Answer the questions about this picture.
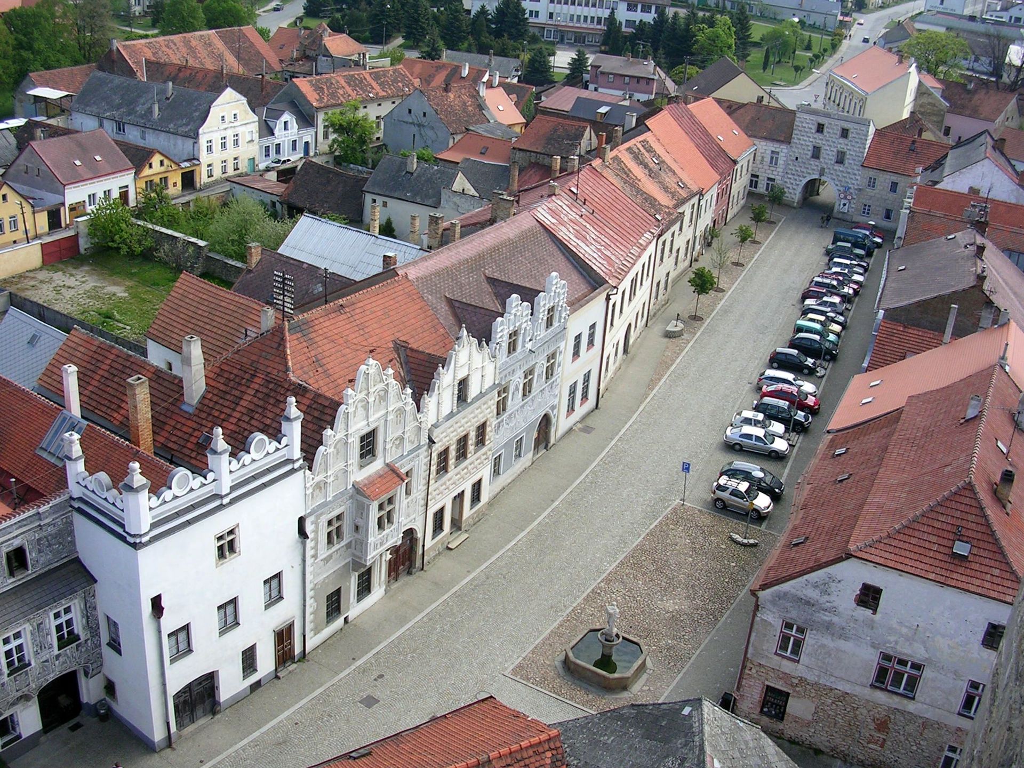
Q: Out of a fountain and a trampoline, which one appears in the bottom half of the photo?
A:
fountain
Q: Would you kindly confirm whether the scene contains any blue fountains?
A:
No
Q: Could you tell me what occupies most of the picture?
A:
buildings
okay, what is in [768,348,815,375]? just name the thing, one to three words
car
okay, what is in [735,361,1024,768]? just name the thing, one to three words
house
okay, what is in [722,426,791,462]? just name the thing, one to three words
car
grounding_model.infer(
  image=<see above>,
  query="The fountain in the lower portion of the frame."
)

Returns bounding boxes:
[566,621,648,690]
